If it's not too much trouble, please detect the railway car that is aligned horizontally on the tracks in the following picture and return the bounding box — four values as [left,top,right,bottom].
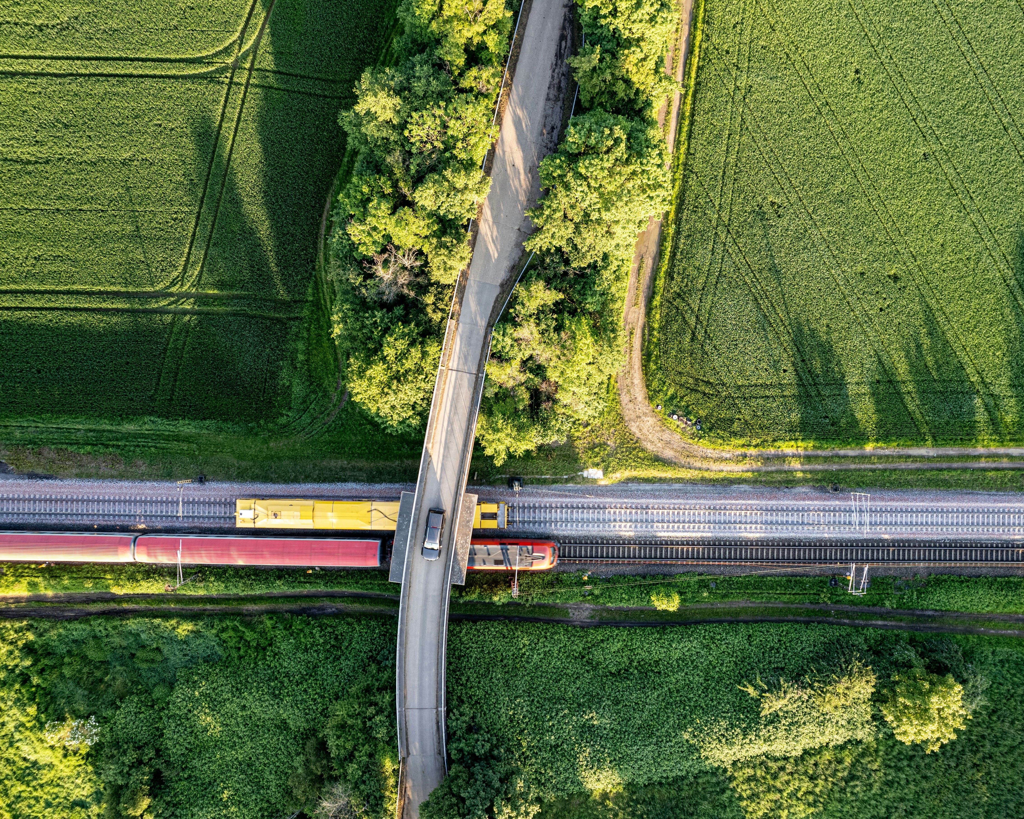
[467,539,562,570]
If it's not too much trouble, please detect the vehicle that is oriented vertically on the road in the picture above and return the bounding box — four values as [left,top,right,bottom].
[421,507,446,560]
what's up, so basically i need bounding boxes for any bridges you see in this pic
[389,318,499,765]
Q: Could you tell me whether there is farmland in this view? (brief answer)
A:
Yes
